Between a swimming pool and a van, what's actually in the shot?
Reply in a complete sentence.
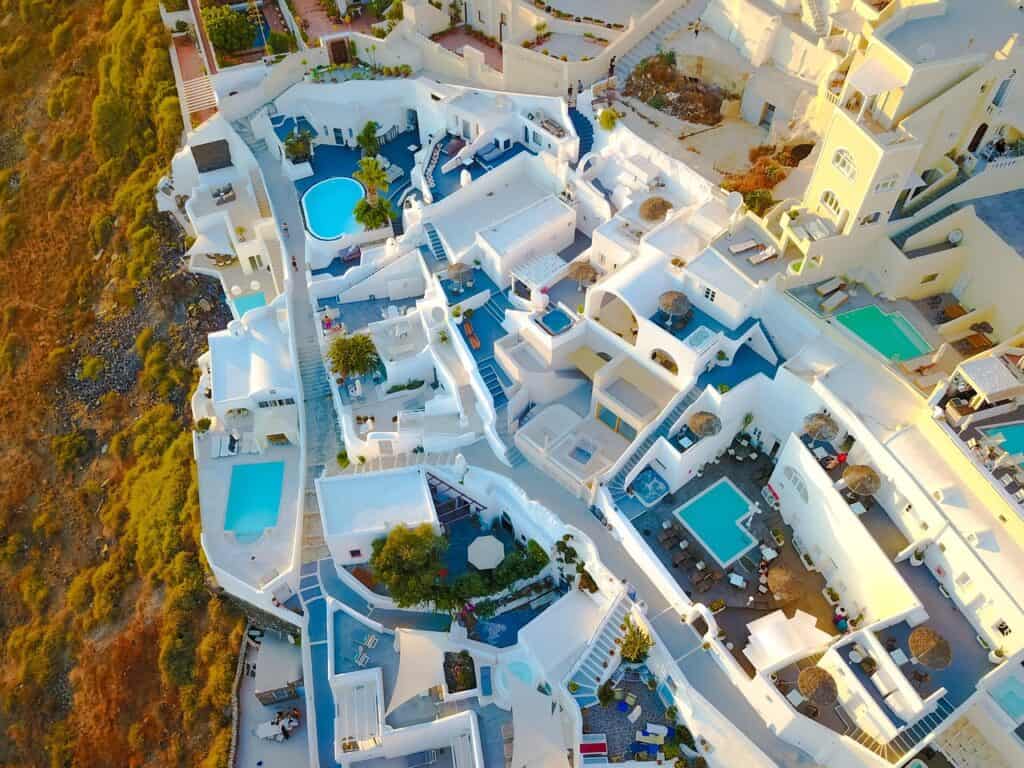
There is a swimming pool in the scene.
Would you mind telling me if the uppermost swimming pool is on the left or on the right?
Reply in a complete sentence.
The uppermost swimming pool sits on the left side.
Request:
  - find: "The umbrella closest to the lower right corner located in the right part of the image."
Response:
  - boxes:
[907,632,952,675]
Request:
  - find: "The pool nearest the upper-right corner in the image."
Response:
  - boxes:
[835,304,935,361]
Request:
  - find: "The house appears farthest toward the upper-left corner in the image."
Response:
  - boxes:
[176,116,253,215]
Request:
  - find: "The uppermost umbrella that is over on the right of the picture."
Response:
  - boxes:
[643,195,674,226]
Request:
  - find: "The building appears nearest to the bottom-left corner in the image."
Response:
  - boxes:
[256,640,303,703]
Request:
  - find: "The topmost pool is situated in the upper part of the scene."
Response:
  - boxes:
[302,177,365,240]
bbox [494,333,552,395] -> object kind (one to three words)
building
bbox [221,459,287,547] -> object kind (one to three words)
swimming pool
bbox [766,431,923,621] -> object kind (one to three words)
house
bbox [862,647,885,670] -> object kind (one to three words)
umbrella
